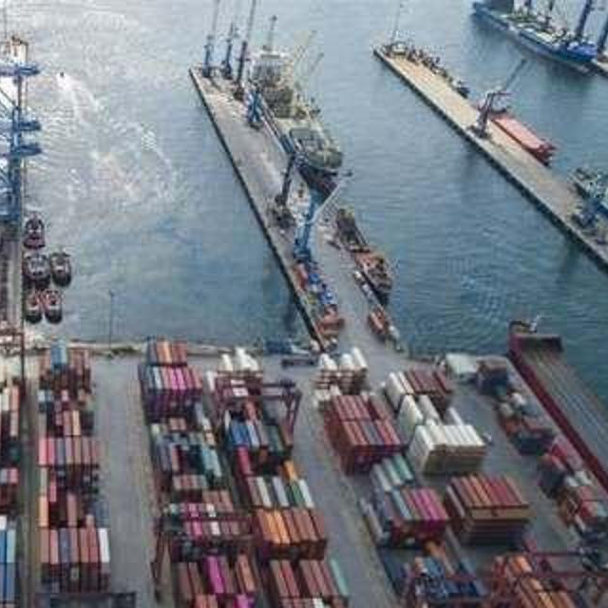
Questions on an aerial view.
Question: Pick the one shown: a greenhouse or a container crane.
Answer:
container crane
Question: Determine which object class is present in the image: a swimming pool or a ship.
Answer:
ship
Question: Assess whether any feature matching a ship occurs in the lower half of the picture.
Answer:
Yes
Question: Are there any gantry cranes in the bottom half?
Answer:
Yes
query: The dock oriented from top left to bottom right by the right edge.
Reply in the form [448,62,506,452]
[375,43,608,273]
